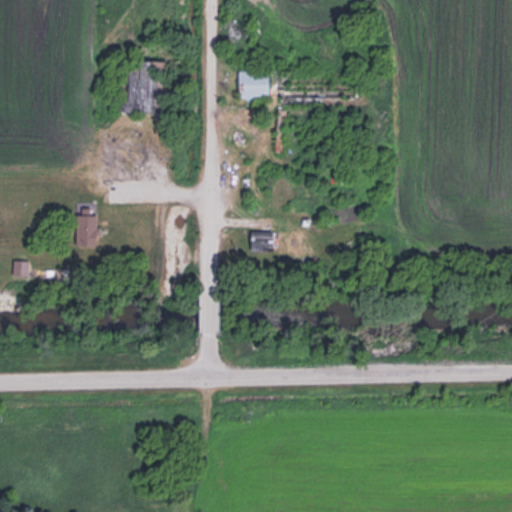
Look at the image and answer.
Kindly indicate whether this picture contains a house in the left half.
Yes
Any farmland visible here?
Yes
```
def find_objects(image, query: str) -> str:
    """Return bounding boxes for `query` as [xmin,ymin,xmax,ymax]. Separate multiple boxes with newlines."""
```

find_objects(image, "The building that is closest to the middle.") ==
[250,230,274,252]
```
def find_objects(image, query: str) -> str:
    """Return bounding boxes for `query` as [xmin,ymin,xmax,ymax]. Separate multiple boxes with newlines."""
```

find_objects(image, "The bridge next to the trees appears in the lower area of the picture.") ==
[200,290,219,337]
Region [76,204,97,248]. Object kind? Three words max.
house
